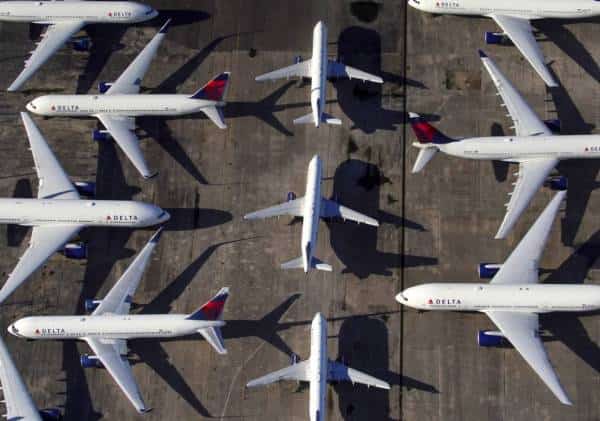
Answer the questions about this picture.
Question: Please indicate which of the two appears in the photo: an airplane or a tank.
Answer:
airplane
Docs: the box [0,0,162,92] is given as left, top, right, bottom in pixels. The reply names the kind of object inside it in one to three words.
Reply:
airplane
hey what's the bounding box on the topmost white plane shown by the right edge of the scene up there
[408,0,600,85]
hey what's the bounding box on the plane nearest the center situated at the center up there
[244,155,378,272]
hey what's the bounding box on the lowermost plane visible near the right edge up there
[398,193,600,404]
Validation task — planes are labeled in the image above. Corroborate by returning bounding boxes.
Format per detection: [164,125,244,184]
[0,110,173,309]
[244,155,378,272]
[398,193,600,404]
[27,19,230,177]
[408,0,600,85]
[0,348,63,421]
[247,313,388,421]
[410,47,600,237]
[9,228,228,411]
[255,21,382,127]
[0,0,162,92]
